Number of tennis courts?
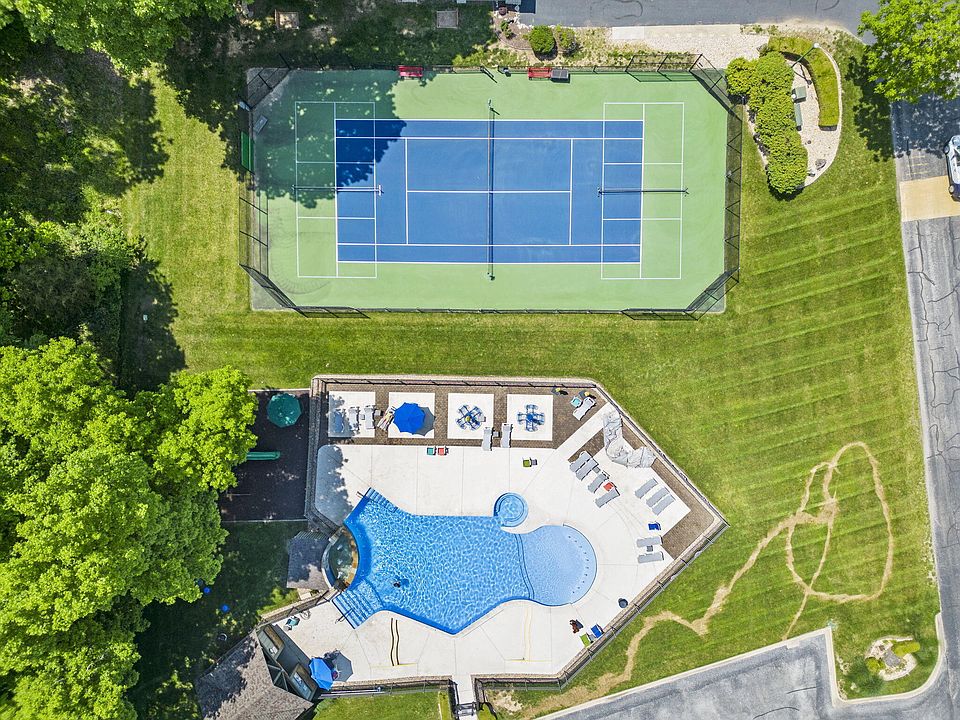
1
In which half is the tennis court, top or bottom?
top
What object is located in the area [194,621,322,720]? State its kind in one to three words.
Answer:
building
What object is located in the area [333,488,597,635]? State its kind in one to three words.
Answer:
swimming pool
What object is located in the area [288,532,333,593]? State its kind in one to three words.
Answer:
shed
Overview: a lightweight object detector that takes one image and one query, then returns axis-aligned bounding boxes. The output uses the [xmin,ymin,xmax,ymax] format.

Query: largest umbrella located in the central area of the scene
[394,402,425,433]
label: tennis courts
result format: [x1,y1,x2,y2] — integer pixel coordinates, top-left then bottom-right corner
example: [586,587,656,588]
[248,68,728,312]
